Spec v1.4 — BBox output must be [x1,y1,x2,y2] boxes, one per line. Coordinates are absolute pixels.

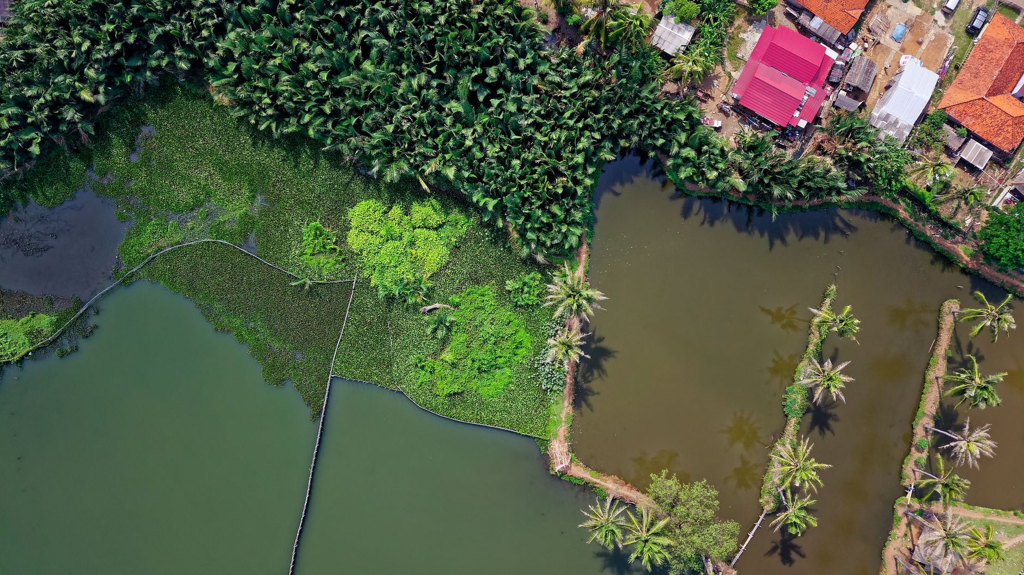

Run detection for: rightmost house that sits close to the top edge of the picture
[937,11,1024,154]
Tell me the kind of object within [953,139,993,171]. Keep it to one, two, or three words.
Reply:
shed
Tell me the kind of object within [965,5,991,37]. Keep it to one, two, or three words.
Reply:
car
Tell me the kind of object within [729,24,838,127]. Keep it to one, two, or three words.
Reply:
house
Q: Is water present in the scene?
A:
Yes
